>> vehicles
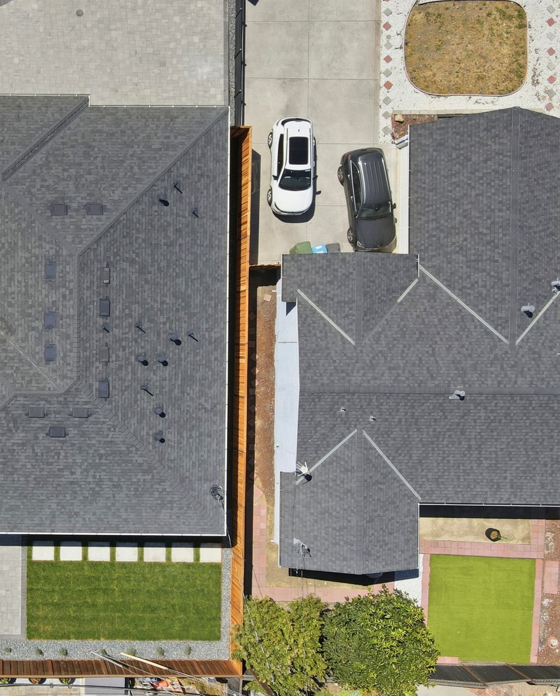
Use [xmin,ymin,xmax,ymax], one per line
[341,143,404,252]
[267,113,323,217]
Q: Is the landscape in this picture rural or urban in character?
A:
urban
